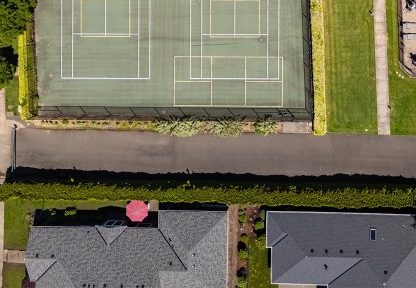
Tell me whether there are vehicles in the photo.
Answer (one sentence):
No, no vehicle can be seen from above.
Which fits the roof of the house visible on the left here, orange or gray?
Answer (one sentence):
The color of the roof of the house visible on the left is gray.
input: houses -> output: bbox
[23,205,229,288]
[266,206,416,288]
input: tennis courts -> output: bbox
[168,0,311,116]
[34,0,169,116]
